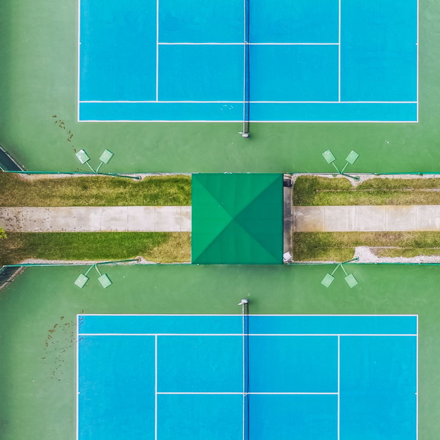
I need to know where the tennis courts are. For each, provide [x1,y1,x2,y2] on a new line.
[0,0,440,173]
[0,265,440,440]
